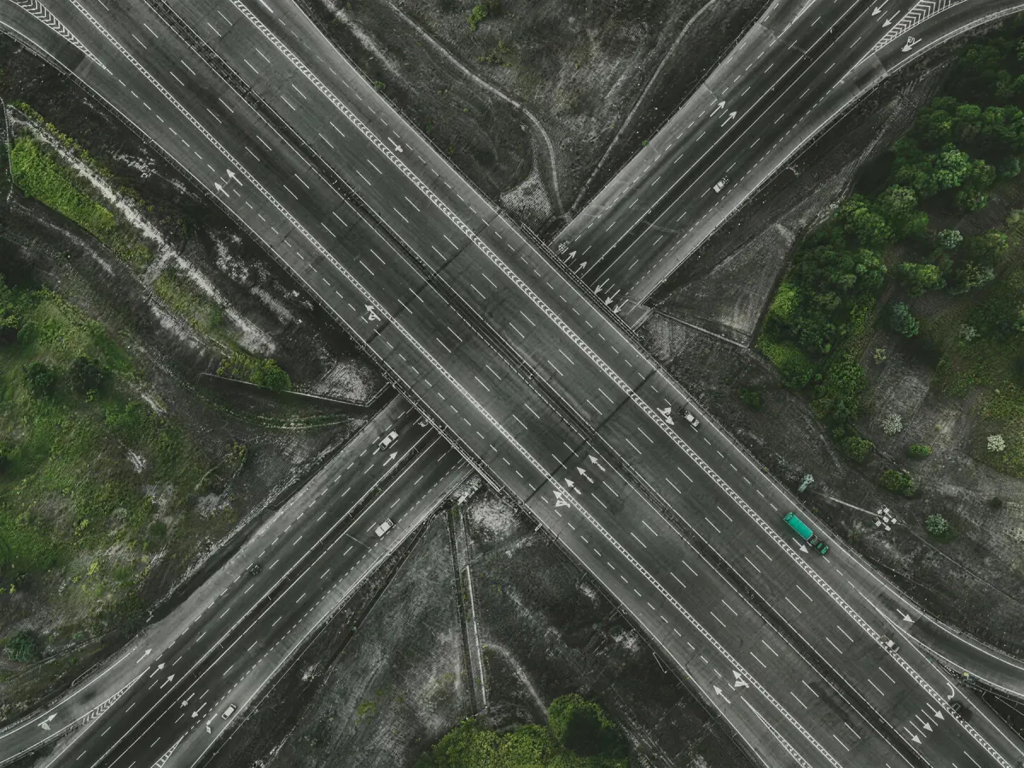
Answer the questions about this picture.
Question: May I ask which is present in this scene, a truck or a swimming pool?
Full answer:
This aerial view contains a truck.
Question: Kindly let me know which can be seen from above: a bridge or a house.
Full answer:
The one in the frame is a bridge.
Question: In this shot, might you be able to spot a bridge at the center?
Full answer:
Yes, at the center there is a bridge.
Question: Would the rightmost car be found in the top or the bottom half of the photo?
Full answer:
The bottom half of the photo is where the rightmost car is.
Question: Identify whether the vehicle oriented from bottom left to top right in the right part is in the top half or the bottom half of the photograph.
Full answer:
The vehicle oriented from bottom left to top right in the right part sits in the top half of the picture.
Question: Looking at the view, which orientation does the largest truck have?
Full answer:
From this overhead view, the largest truck appears to run at an angle.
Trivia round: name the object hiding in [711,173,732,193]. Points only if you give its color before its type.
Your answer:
white vehicle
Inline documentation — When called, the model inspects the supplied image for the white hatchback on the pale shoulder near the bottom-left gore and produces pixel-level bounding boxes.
[219,702,236,720]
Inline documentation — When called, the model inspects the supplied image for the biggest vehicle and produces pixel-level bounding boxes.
[782,510,831,556]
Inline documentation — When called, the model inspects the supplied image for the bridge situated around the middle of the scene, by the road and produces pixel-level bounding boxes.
[360,207,661,508]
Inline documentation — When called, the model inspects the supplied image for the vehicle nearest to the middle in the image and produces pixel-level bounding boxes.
[377,430,400,450]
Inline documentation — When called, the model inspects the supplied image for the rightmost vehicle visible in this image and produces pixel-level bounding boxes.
[948,700,969,720]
